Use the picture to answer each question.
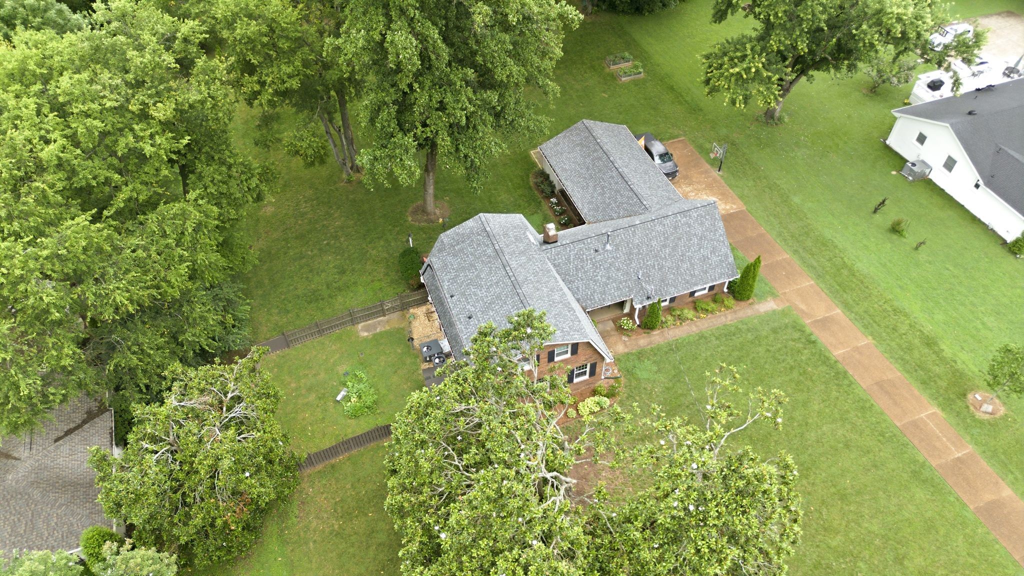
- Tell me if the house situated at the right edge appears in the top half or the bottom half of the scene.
top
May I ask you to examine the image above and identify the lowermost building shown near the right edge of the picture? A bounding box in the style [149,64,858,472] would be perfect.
[887,78,1024,242]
